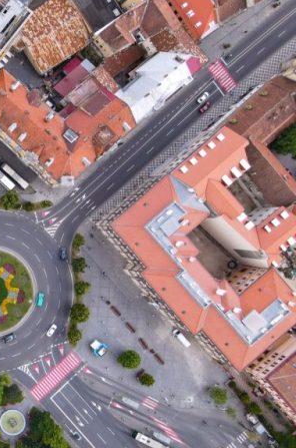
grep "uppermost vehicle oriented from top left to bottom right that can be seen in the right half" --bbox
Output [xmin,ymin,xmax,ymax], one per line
[174,331,191,346]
